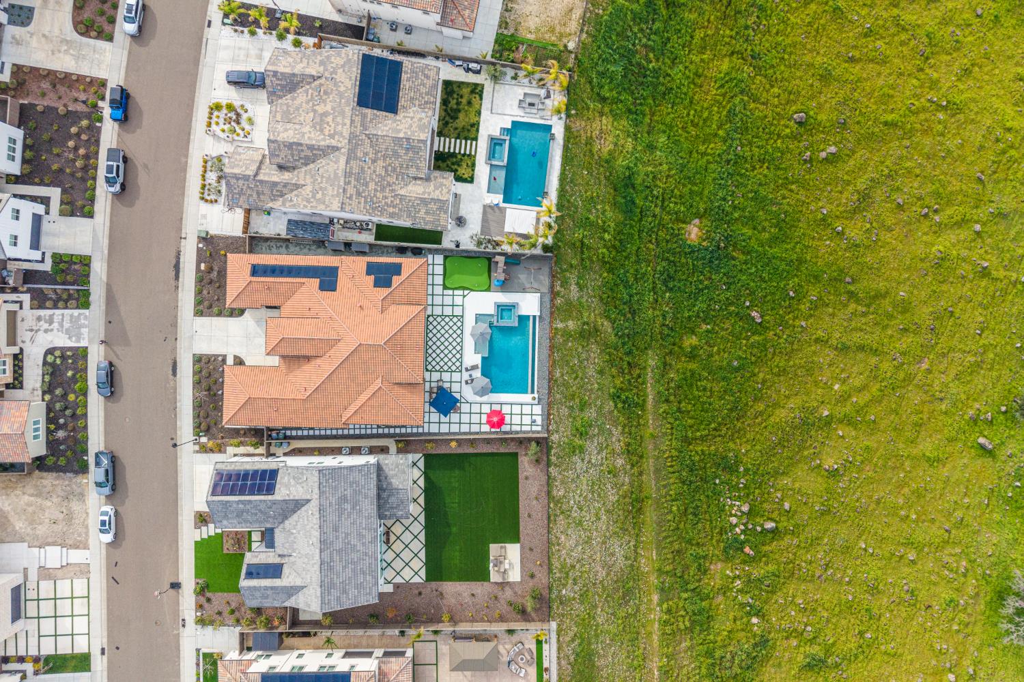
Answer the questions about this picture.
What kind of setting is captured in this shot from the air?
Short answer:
residential area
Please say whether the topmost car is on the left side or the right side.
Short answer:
left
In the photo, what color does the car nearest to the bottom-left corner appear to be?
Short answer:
white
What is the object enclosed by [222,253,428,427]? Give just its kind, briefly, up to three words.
house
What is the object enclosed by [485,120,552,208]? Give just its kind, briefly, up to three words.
swimming pool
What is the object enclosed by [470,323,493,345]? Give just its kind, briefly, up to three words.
umbrella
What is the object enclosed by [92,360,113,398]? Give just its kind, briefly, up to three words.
car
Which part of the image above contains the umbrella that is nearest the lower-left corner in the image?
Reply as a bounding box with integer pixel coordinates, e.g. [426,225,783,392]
[429,386,461,418]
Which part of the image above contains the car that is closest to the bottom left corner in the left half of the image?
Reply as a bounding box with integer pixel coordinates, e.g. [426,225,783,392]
[94,506,116,546]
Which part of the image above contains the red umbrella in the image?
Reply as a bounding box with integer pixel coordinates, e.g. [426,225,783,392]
[486,409,506,428]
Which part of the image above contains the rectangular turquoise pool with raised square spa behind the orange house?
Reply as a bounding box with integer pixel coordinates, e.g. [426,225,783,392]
[474,302,536,394]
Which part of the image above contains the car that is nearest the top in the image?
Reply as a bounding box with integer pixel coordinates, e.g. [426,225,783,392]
[119,0,144,33]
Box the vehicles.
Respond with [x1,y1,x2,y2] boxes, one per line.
[119,0,144,33]
[90,450,114,497]
[100,145,126,194]
[94,506,116,546]
[92,360,113,398]
[105,83,129,122]
[226,67,266,88]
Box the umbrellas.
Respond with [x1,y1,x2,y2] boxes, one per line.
[429,386,461,418]
[471,376,492,397]
[486,409,506,428]
[470,323,493,345]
